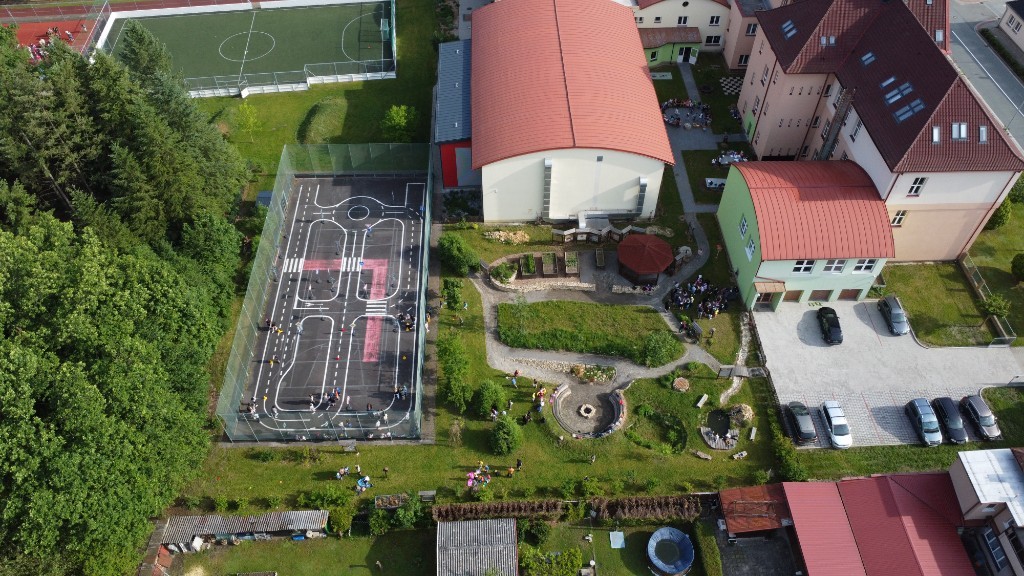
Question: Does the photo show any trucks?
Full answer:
No, I can see no truck in this picture.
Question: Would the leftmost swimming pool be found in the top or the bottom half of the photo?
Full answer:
The leftmost swimming pool sits in the bottom half of the picture.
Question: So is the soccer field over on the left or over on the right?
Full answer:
The soccer field sits on the left side.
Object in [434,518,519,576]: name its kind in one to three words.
barn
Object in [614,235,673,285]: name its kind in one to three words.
gazebo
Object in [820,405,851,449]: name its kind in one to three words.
car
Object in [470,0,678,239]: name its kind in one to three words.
building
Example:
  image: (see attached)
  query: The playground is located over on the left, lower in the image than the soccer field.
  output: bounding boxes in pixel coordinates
[233,174,430,441]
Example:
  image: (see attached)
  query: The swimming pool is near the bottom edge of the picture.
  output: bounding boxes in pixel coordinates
[648,529,694,576]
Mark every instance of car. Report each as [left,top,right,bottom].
[934,401,970,446]
[817,311,847,346]
[882,301,911,336]
[820,405,851,449]
[965,400,1000,442]
[788,406,818,447]
[907,402,942,447]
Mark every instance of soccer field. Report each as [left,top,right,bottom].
[83,0,397,97]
